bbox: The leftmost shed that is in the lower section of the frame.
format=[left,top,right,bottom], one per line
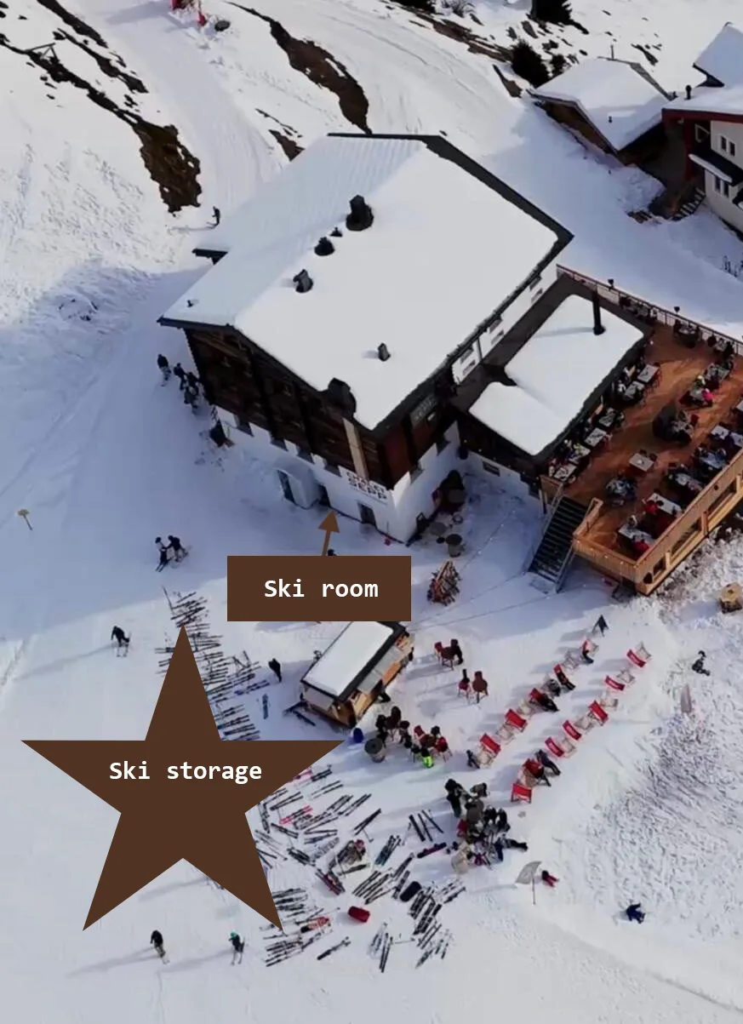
[303,610,419,734]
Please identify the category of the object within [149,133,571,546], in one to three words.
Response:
house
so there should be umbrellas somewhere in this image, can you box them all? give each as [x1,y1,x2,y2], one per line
[515,863,545,903]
